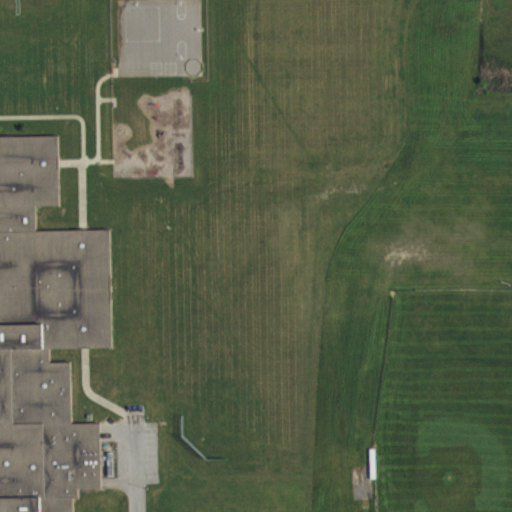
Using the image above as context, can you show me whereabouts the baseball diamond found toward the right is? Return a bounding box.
[374,292,512,512]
